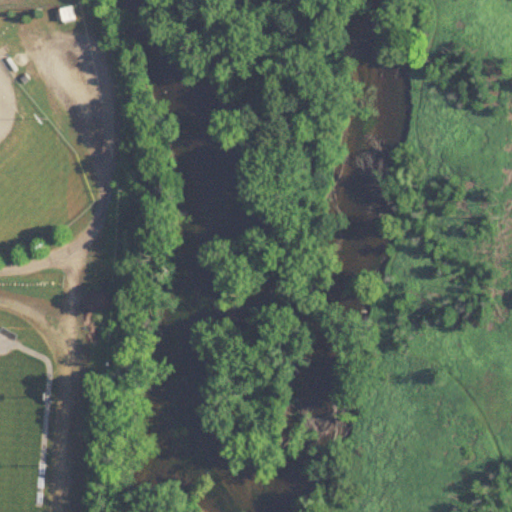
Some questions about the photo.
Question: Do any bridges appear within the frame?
No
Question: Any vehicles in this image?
No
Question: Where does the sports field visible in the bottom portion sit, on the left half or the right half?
left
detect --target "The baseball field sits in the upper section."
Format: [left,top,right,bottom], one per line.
[0,20,94,243]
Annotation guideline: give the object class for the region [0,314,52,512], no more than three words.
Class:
sports field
